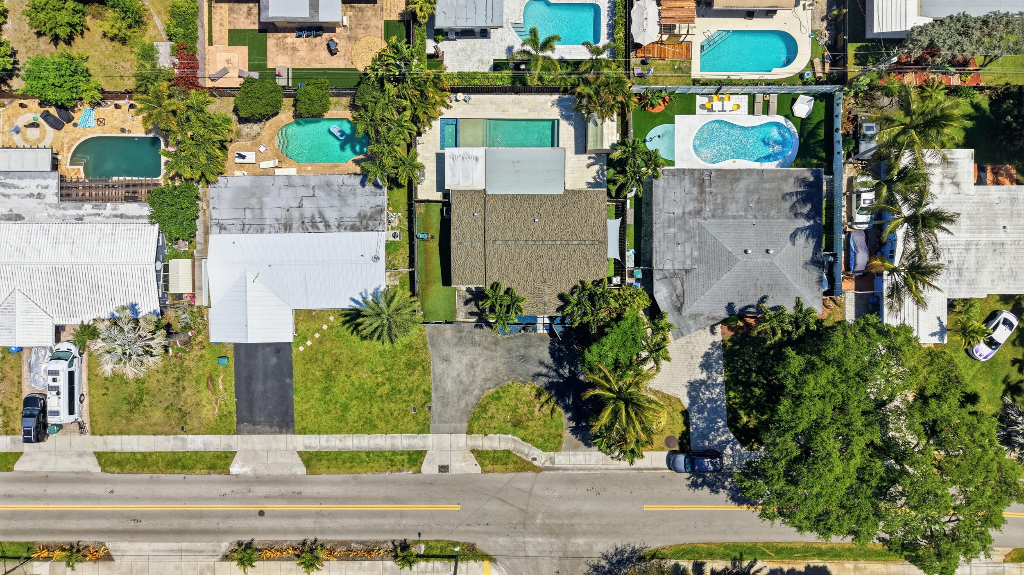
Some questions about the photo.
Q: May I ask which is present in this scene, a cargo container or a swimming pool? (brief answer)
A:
swimming pool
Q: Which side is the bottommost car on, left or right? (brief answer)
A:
right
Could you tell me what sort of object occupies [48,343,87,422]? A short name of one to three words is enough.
van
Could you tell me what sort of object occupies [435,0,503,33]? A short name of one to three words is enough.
house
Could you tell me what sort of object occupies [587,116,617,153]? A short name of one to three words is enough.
shed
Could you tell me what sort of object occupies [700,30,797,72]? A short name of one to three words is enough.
swimming pool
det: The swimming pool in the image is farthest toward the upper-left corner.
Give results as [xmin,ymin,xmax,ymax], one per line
[67,134,164,183]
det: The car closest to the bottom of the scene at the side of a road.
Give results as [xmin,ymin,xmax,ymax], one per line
[666,450,720,476]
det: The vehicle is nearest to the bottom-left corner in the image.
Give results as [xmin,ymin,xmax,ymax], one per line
[19,392,50,445]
